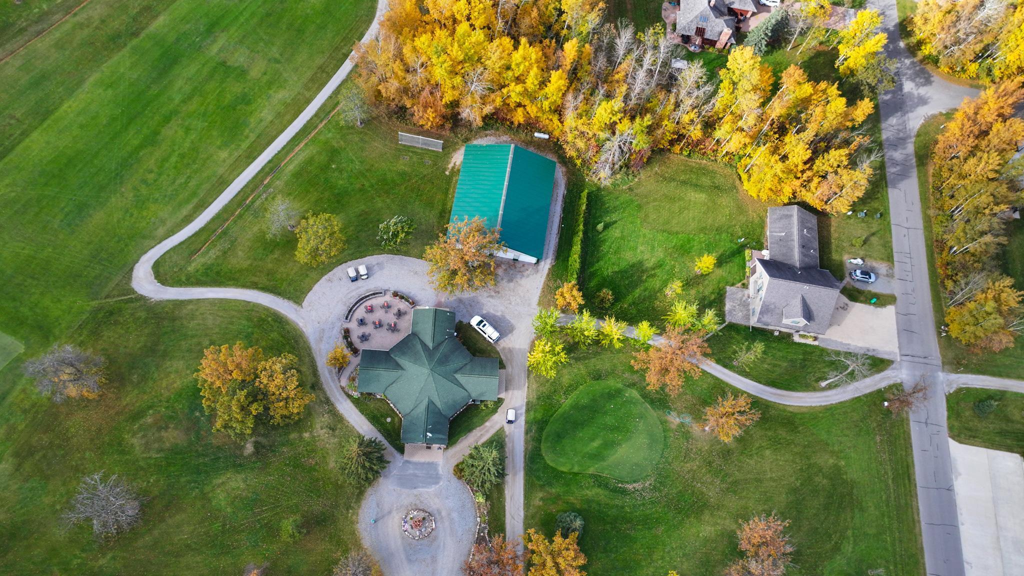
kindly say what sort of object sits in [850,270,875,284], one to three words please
car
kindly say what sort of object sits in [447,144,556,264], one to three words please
shed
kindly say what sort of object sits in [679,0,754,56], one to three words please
house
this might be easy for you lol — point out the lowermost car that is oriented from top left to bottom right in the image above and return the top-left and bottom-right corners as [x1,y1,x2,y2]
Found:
[470,316,501,346]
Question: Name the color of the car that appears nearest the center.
white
